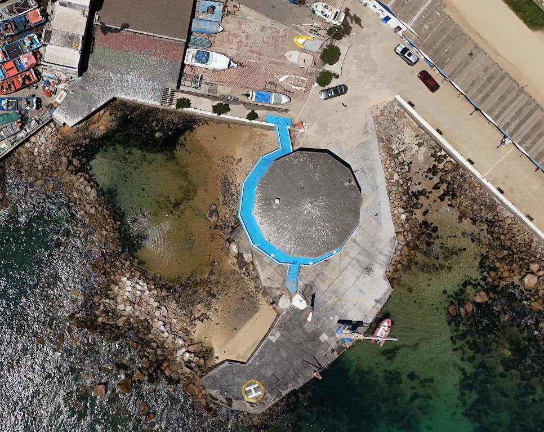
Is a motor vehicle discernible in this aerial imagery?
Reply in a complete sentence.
Yes, there is a motor vehicle in the image.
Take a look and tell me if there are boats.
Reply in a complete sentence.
Yes, you can see a boat in this photo.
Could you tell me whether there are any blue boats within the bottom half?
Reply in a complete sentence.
No, looking within the bottom half, there is no blue boat.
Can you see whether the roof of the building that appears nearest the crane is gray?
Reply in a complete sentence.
Yes, gray is the color of the roof of the building that appears nearest the crane.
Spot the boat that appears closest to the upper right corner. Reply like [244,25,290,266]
[313,1,345,26]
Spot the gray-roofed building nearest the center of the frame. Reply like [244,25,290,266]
[239,115,361,292]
